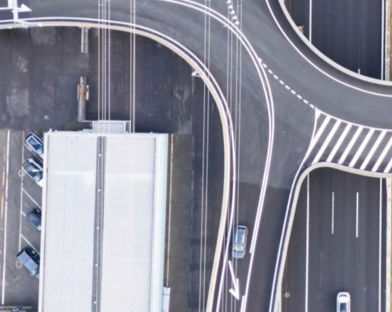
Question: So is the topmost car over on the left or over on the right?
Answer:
left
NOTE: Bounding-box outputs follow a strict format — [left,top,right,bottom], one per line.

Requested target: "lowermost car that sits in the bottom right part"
[337,293,350,312]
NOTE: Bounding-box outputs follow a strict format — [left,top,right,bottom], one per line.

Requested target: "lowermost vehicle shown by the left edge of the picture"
[13,245,38,276]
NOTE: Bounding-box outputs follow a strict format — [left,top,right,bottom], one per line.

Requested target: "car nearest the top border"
[19,129,42,157]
